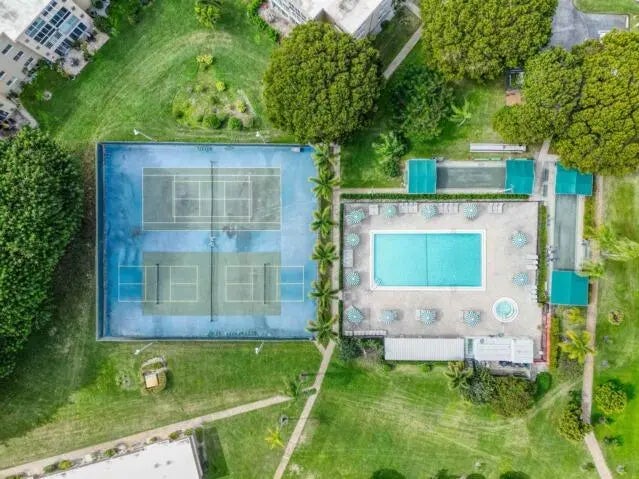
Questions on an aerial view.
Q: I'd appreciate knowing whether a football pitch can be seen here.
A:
No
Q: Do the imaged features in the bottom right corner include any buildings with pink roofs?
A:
No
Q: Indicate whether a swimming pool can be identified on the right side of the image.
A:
Yes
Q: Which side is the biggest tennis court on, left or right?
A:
left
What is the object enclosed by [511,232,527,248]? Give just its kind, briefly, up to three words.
umbrella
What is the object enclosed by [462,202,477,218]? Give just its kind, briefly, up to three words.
umbrella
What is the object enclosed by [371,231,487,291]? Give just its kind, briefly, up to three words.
swimming pool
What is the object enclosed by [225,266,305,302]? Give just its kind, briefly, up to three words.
sports court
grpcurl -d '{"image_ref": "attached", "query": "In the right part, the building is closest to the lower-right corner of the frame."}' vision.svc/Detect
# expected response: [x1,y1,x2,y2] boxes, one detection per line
[469,335,535,364]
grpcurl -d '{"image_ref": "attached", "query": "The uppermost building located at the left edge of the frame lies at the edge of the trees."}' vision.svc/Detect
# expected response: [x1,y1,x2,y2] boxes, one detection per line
[0,0,94,122]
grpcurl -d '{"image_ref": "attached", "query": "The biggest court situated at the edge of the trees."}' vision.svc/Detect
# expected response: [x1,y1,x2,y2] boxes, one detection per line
[104,145,318,339]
